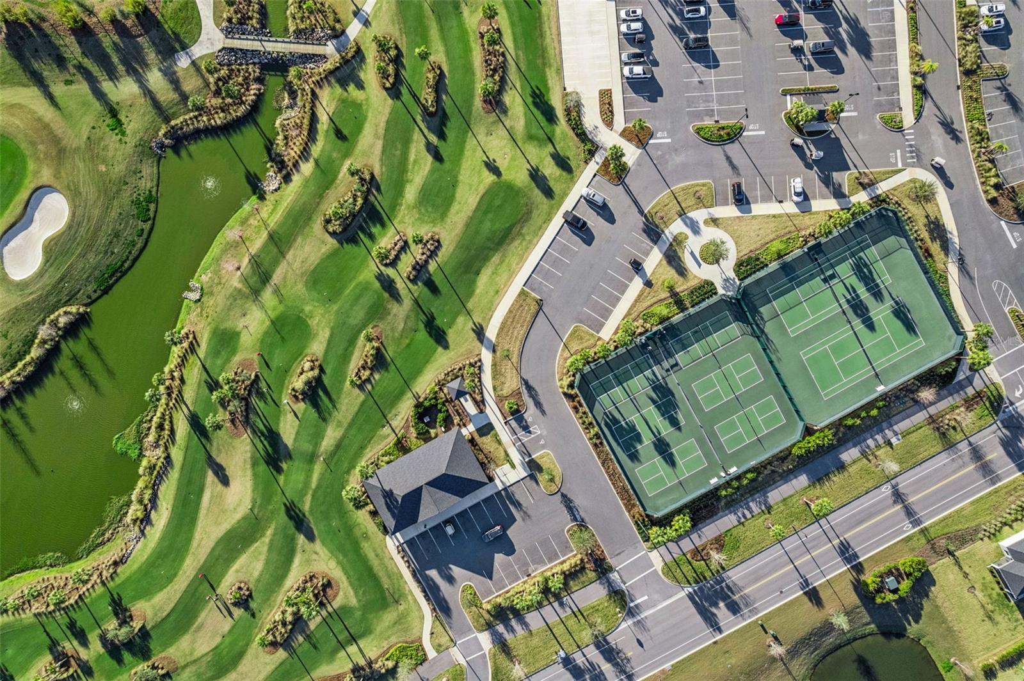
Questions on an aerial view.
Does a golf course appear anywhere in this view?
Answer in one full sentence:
Yes, I can see a golf course in this picture.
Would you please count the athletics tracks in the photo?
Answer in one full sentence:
There are no athletics tracks in this view.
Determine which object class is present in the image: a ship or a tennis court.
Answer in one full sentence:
Of the two, only a tennis court appears.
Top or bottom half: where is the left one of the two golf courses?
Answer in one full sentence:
The left one of the two golf courses sits in the top half of the picture.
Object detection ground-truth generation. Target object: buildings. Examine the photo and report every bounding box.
[363,427,489,535]
[994,530,1024,606]
[446,377,469,400]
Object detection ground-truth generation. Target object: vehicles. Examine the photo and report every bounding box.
[788,40,802,51]
[927,157,944,168]
[555,645,567,659]
[807,151,823,161]
[622,51,645,64]
[623,65,652,79]
[682,0,706,6]
[620,21,643,35]
[790,177,803,203]
[582,188,606,207]
[445,521,456,535]
[774,13,800,26]
[683,5,706,19]
[683,35,709,49]
[633,34,645,45]
[629,259,642,270]
[561,209,588,231]
[481,524,505,542]
[978,18,1004,32]
[978,3,1005,15]
[731,181,744,205]
[788,137,803,149]
[619,7,642,21]
[808,40,835,53]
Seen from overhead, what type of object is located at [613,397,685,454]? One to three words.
sports court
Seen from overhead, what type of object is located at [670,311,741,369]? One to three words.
sports court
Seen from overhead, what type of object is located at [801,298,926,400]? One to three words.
tennis court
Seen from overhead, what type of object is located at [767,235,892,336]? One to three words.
tennis court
